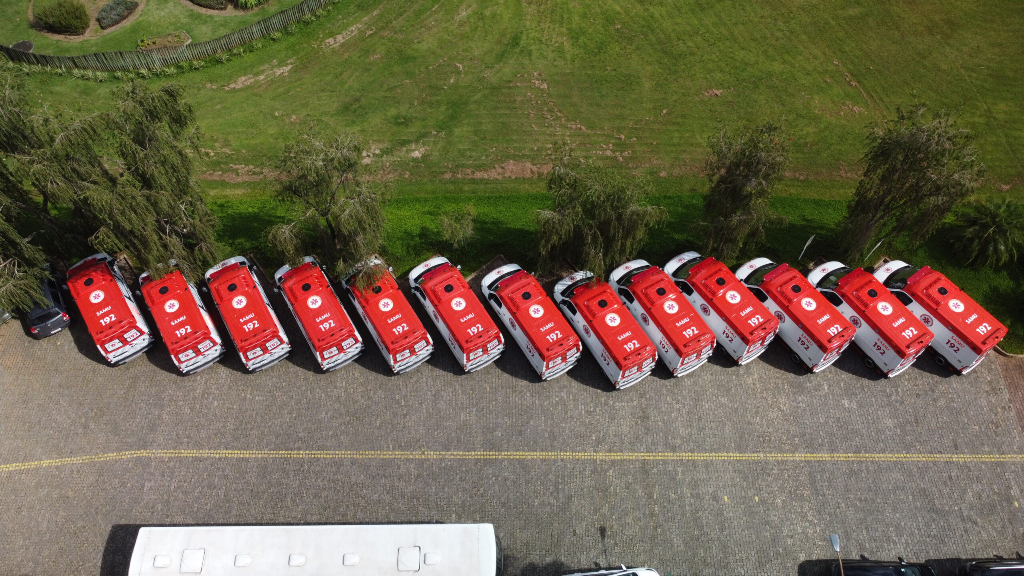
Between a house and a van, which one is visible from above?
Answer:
van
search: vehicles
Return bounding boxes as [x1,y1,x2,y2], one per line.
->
[124,526,505,576]
[65,254,161,368]
[340,259,436,376]
[408,259,506,376]
[549,272,657,392]
[800,263,933,380]
[204,256,296,374]
[866,262,1006,377]
[567,560,663,576]
[604,261,715,380]
[731,260,857,376]
[3,267,71,340]
[659,253,779,368]
[480,265,583,384]
[273,256,367,373]
[938,562,1024,576]
[138,261,232,378]
[808,553,932,576]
